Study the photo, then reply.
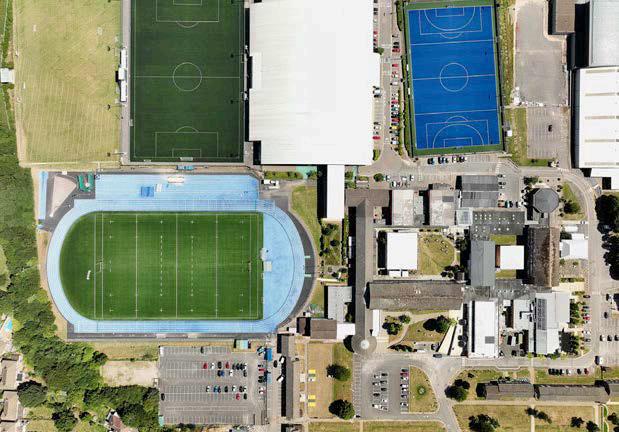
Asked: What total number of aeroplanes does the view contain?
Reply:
none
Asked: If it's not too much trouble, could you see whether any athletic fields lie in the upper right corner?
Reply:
Yes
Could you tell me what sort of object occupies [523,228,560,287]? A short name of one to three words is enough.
building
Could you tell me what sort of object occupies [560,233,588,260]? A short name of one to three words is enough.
shed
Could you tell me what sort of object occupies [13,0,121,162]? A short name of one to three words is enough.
sports field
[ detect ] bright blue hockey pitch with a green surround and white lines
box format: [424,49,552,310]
[406,0,503,156]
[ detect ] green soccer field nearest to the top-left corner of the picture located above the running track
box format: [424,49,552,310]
[131,0,244,161]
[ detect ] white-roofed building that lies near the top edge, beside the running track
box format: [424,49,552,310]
[249,0,380,167]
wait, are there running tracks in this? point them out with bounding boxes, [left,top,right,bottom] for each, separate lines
[36,172,314,341]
